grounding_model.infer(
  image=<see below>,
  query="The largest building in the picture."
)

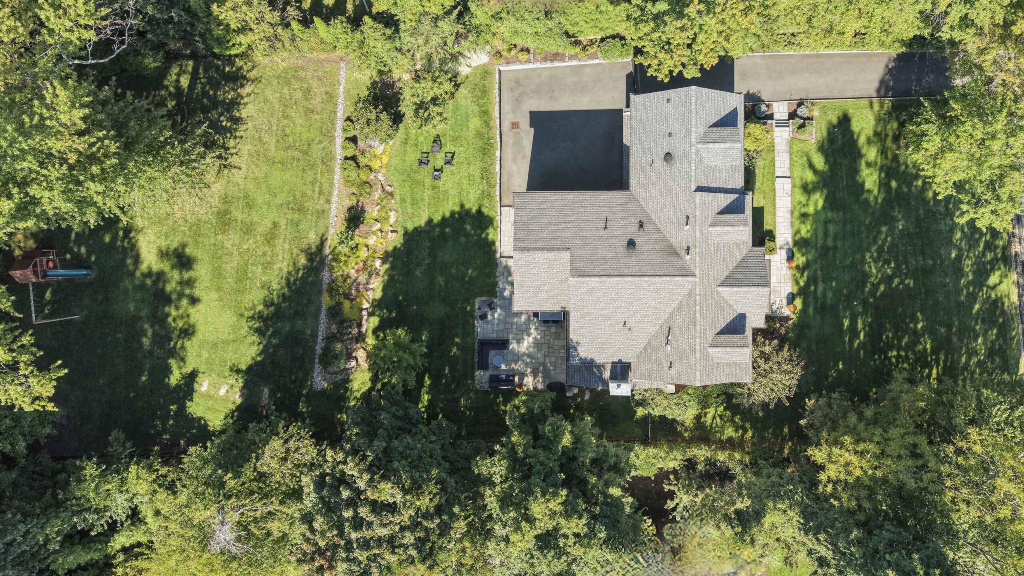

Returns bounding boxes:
[512,83,772,396]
